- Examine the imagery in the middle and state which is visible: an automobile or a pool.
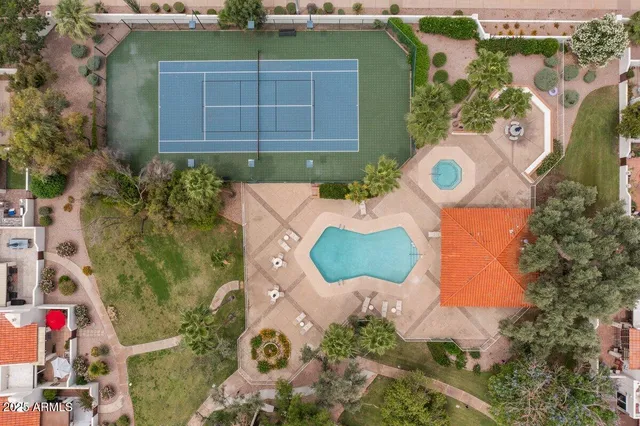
pool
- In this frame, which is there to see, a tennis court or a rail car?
tennis court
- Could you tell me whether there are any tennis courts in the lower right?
No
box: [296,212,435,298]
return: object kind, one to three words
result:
swimming pool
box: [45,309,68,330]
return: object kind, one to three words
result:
umbrella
